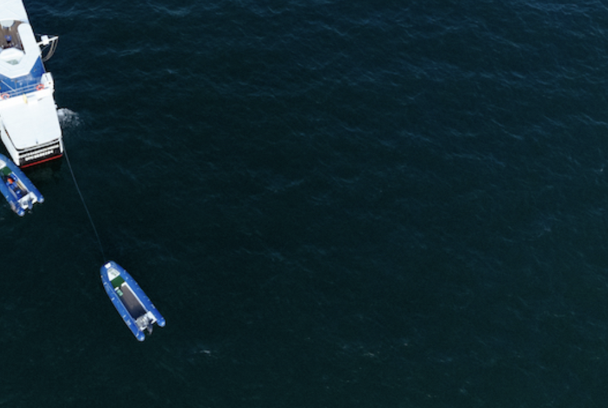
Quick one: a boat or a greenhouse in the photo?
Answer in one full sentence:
The one in the frame is a boat.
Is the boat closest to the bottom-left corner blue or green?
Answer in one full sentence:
The boat closest to the bottom-left corner looks blue in the image.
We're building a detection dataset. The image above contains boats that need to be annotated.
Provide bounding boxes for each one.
[99,260,163,340]
[0,154,44,216]
[0,0,66,168]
